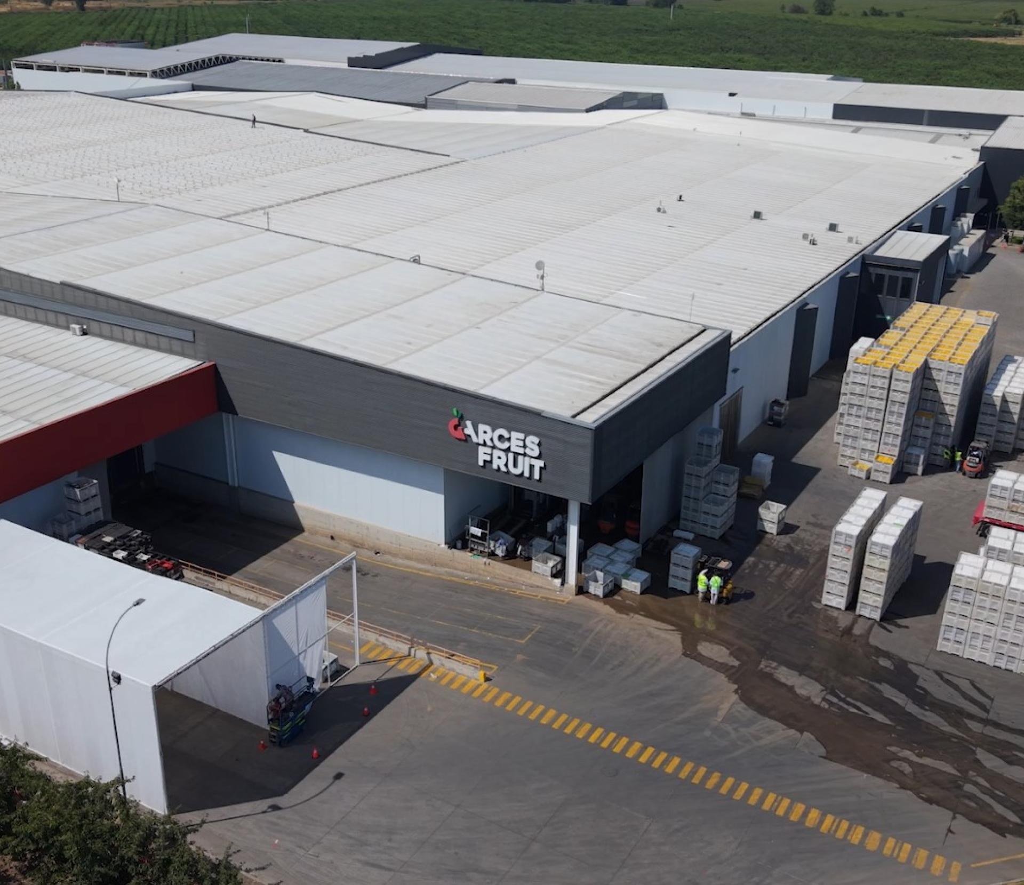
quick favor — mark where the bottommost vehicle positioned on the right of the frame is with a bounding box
[691,557,749,605]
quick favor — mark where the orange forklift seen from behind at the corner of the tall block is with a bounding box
[966,431,991,475]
